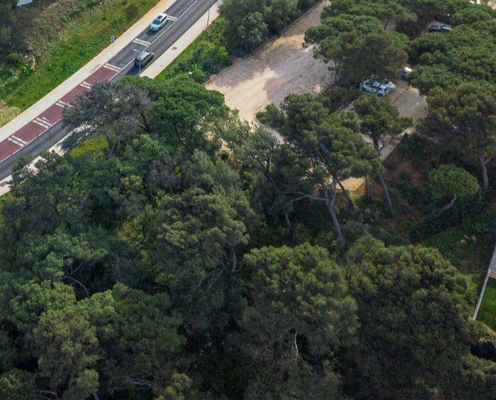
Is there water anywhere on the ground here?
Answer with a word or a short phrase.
No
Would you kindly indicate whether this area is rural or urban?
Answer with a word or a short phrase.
rural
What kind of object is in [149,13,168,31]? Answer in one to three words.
car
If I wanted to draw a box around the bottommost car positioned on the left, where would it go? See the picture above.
[133,52,155,69]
